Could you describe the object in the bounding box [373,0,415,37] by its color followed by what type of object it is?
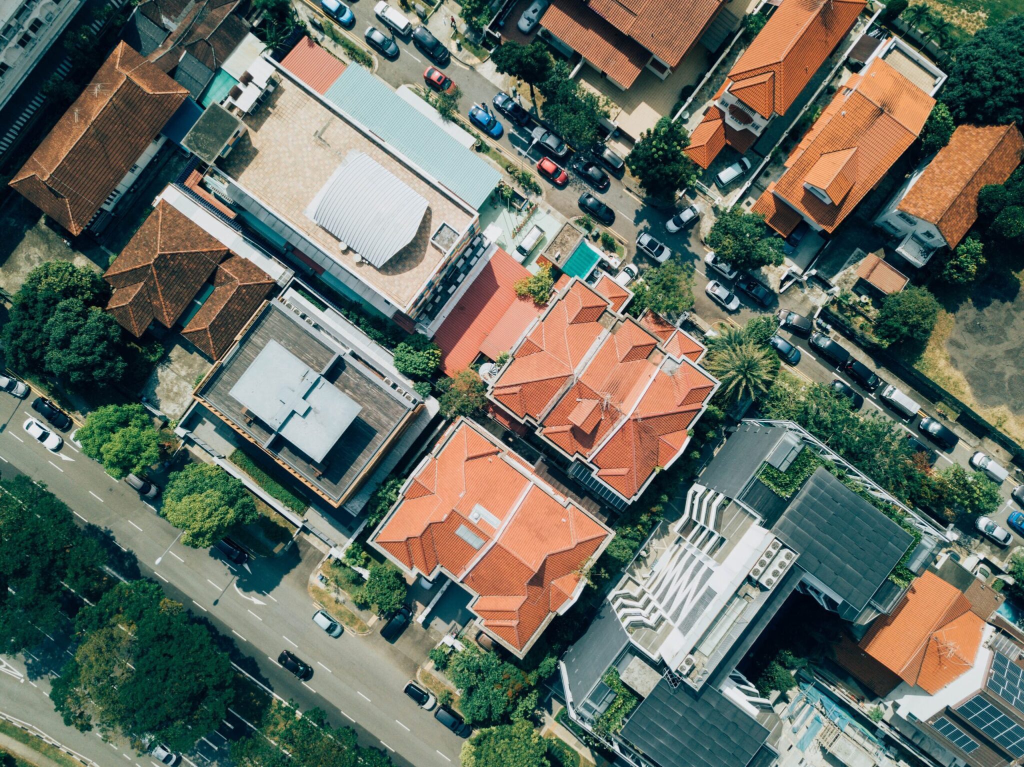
white van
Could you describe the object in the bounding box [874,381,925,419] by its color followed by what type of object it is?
white van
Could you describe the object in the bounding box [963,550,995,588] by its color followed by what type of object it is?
white car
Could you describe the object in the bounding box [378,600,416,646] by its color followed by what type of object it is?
black car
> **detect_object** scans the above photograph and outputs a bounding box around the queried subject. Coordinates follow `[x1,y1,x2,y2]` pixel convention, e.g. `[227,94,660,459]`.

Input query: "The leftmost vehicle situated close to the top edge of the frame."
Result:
[318,0,358,28]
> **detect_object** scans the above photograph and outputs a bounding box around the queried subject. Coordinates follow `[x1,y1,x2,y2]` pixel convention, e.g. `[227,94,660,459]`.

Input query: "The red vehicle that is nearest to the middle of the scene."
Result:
[533,153,572,188]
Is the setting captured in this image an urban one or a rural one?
urban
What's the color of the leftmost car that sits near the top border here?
blue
